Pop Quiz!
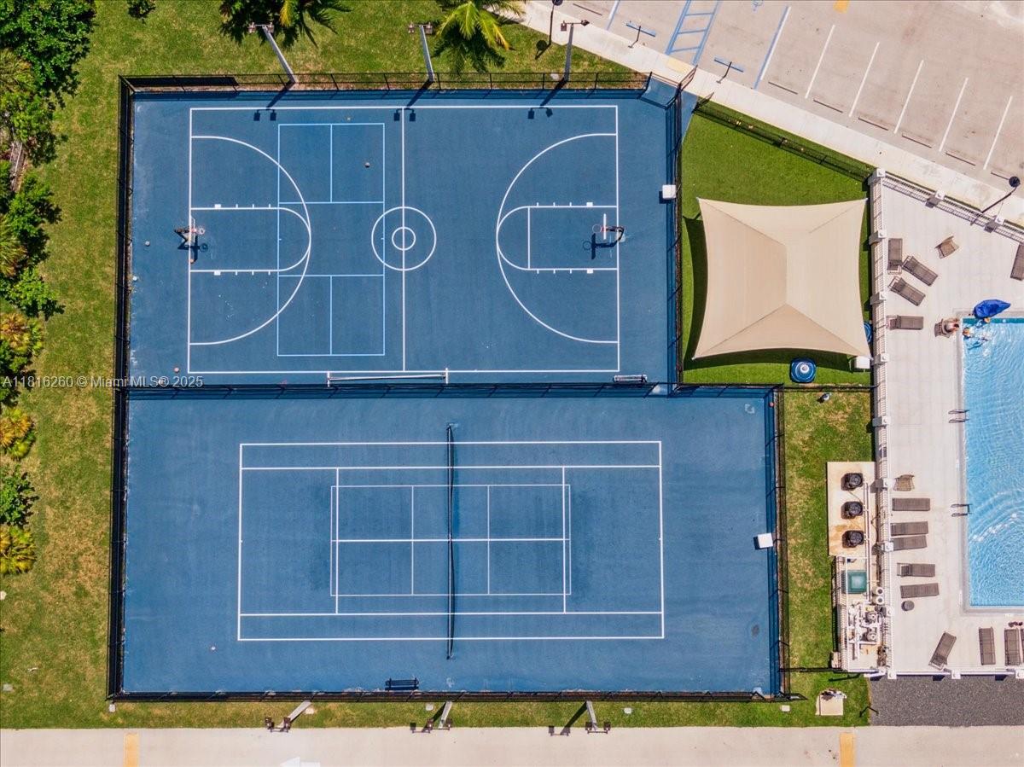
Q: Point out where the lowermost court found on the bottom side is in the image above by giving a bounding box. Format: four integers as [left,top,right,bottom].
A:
[123,386,779,694]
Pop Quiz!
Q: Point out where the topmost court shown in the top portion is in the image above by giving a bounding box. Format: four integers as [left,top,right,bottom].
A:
[128,79,697,385]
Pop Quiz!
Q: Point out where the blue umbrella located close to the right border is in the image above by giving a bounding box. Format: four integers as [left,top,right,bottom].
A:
[973,301,1012,321]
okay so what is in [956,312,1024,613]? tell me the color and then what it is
blue swimming pool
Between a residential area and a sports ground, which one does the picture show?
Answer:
sports ground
